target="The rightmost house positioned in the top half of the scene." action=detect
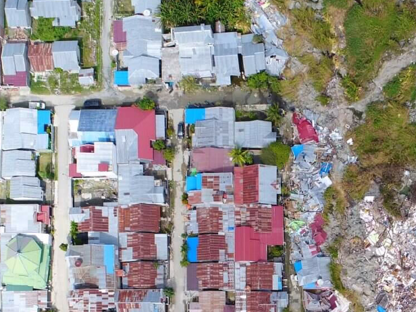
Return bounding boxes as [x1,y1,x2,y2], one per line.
[265,48,288,79]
